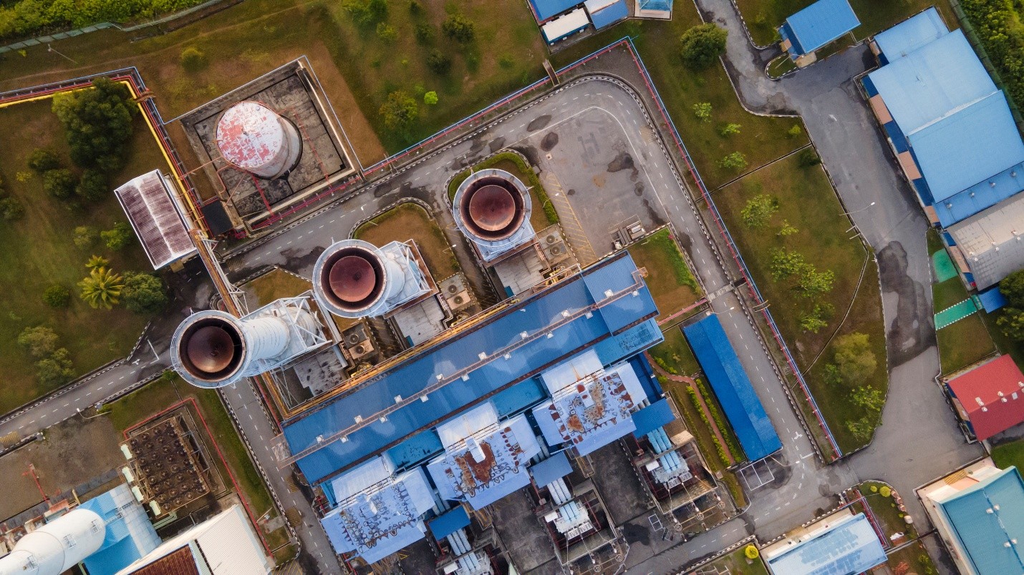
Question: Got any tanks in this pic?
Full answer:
Yes, looking at the shot, I can spot a tank.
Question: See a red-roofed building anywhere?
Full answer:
Yes, the picture does show a red-roofed building.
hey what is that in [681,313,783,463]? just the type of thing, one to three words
shed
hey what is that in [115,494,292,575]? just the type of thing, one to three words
building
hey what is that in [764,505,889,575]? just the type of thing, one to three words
building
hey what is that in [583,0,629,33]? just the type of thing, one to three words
shed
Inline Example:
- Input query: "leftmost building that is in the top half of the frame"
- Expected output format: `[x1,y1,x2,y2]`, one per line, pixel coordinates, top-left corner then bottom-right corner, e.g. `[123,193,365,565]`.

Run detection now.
[114,169,198,271]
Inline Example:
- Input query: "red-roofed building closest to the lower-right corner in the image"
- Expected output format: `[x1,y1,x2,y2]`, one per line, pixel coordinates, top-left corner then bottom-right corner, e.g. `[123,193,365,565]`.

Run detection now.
[940,354,1024,441]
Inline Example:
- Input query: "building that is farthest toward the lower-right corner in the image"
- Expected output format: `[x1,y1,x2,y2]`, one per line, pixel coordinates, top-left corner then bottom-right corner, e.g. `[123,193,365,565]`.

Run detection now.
[927,462,1024,575]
